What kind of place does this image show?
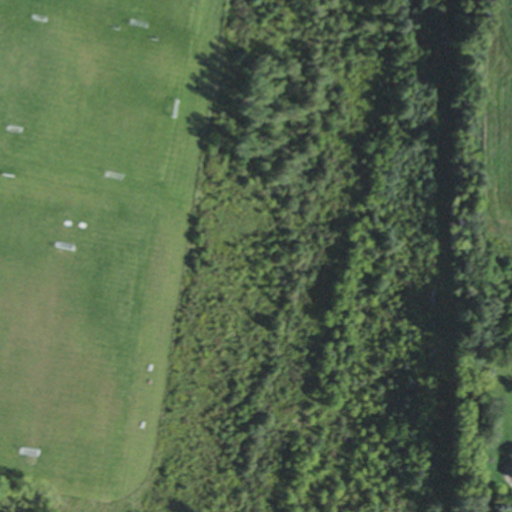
sports ground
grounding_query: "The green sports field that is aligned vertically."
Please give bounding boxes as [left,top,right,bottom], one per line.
[0,0,224,512]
